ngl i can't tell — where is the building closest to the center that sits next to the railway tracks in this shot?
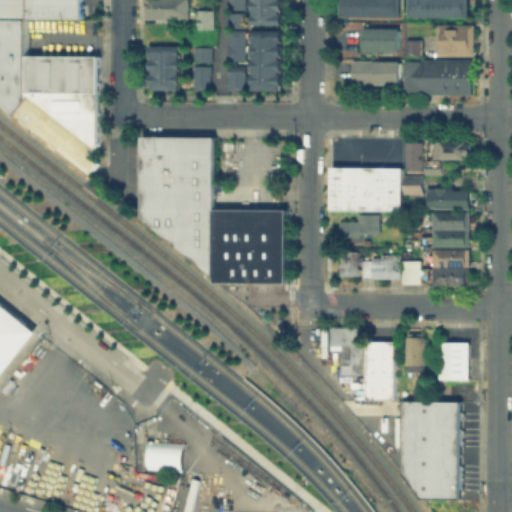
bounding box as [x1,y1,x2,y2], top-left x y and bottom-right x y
[212,210,288,283]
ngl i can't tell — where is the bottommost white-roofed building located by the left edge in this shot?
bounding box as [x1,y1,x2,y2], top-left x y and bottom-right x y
[0,300,38,380]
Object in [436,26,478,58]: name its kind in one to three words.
house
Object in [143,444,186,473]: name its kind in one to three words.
shed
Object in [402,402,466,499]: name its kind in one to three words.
building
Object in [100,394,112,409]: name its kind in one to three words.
vehicle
